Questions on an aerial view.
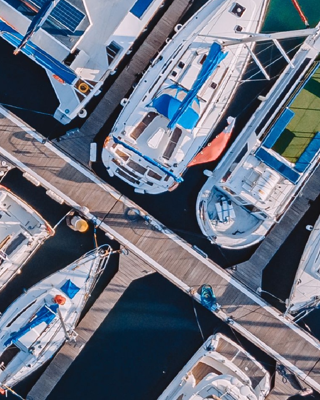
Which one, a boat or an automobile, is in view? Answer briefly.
boat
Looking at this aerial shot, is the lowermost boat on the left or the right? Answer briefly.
right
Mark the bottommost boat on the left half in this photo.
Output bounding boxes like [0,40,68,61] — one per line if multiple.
[0,246,117,394]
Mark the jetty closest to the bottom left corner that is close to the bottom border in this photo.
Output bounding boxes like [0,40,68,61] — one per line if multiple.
[21,245,155,400]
